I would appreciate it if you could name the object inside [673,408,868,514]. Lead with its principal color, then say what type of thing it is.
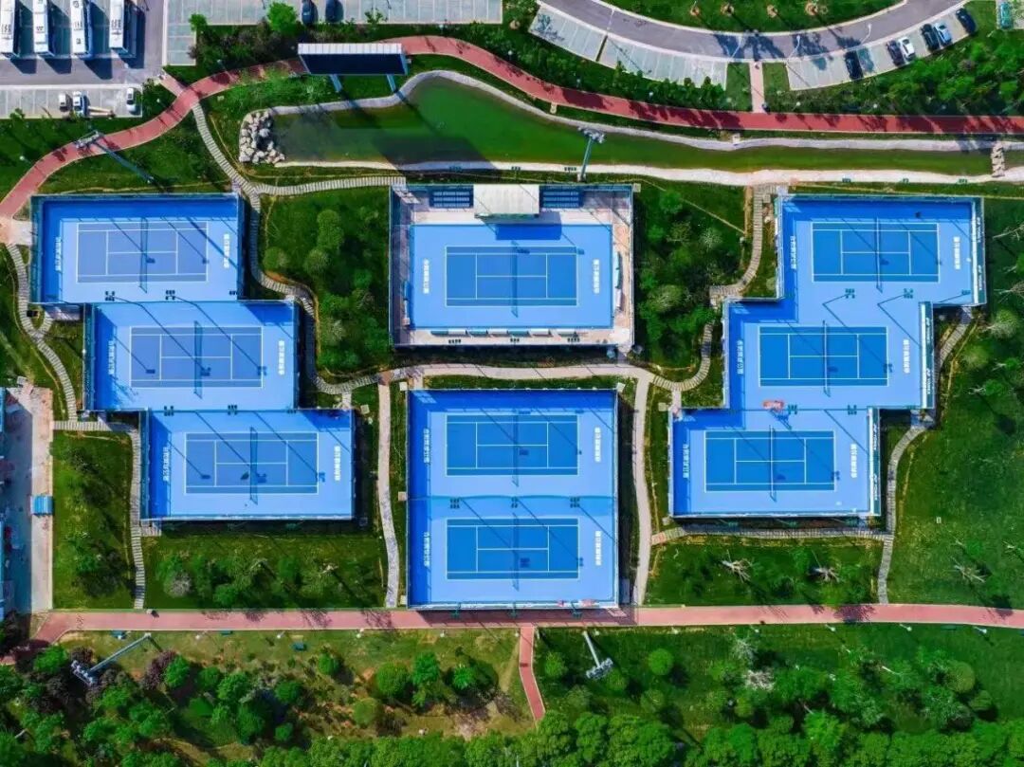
blue tennis court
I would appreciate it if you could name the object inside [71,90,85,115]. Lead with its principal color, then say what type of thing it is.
white car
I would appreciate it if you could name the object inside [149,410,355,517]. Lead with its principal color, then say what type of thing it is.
blue tennis court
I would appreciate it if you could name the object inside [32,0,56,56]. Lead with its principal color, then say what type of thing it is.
white bus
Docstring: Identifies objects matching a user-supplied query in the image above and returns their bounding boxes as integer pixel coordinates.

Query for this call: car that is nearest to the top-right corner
[999,2,1013,27]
